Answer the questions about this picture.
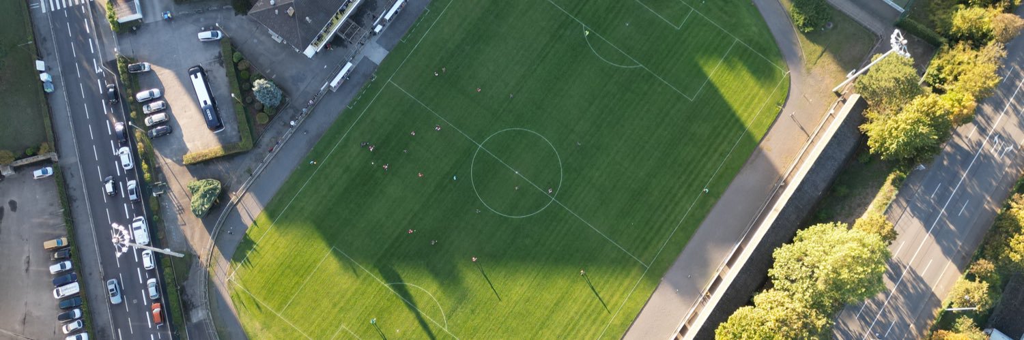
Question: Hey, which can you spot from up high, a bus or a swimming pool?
bus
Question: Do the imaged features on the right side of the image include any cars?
No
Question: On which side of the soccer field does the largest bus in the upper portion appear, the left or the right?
to the left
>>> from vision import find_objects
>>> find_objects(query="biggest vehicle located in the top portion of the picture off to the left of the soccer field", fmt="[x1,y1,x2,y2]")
[185,61,228,132]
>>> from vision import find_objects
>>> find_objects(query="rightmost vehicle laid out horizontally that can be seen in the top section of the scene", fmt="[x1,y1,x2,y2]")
[197,29,223,42]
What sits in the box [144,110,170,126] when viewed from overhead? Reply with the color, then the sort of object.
white car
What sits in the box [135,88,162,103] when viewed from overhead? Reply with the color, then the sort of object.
white car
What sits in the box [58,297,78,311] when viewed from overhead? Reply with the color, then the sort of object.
blue car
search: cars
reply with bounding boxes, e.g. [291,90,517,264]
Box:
[197,29,223,42]
[50,247,69,261]
[48,260,72,275]
[51,273,74,288]
[149,302,165,326]
[64,330,84,340]
[56,308,80,324]
[113,121,128,143]
[145,277,161,301]
[102,175,118,197]
[125,178,141,203]
[127,61,151,73]
[142,99,167,115]
[140,249,156,272]
[135,88,162,103]
[144,110,170,126]
[118,146,135,171]
[42,236,67,250]
[58,297,78,311]
[106,278,122,305]
[147,123,173,138]
[105,83,120,105]
[32,166,53,180]
[61,319,82,334]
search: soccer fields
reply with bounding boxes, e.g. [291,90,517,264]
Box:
[230,0,791,340]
